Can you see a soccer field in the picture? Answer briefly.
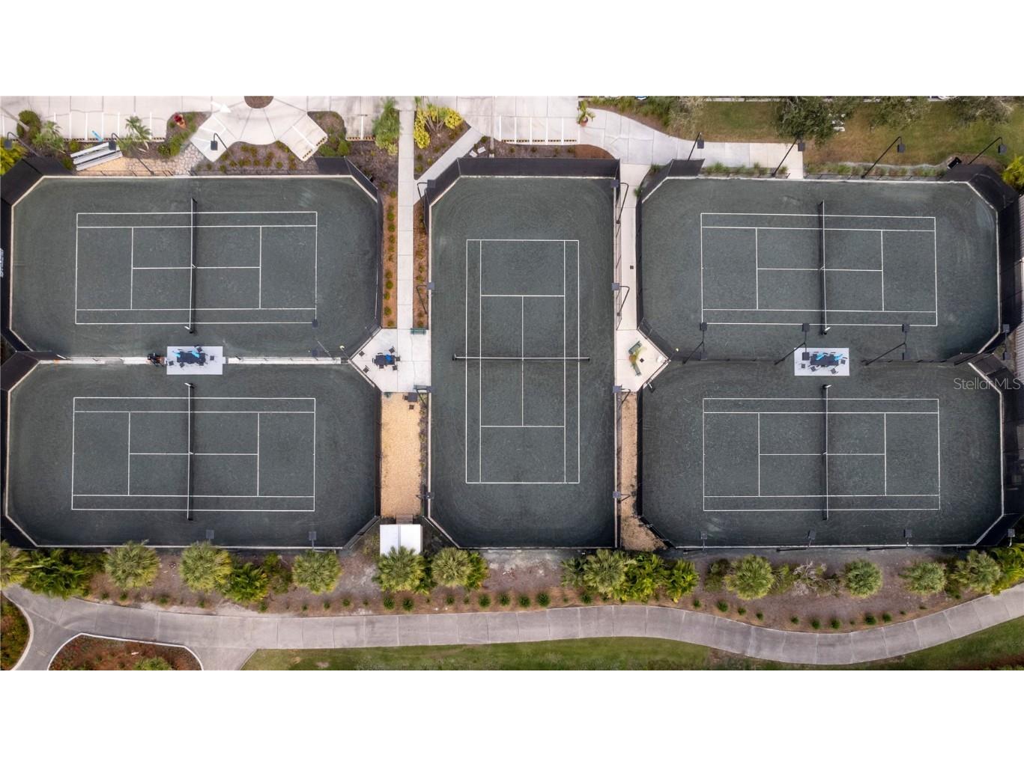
No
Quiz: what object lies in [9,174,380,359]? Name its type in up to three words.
tennis court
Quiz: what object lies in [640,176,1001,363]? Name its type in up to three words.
tennis court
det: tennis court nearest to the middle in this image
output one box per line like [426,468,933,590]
[427,175,618,550]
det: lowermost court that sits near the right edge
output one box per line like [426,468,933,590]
[643,362,1006,549]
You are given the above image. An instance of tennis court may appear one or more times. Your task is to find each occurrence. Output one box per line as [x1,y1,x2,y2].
[640,176,1001,363]
[643,362,1006,549]
[427,175,618,550]
[9,174,380,359]
[4,361,378,550]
